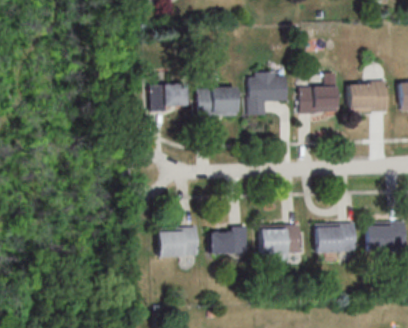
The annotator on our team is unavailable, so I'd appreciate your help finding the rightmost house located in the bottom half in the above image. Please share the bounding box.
[366,221,407,252]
